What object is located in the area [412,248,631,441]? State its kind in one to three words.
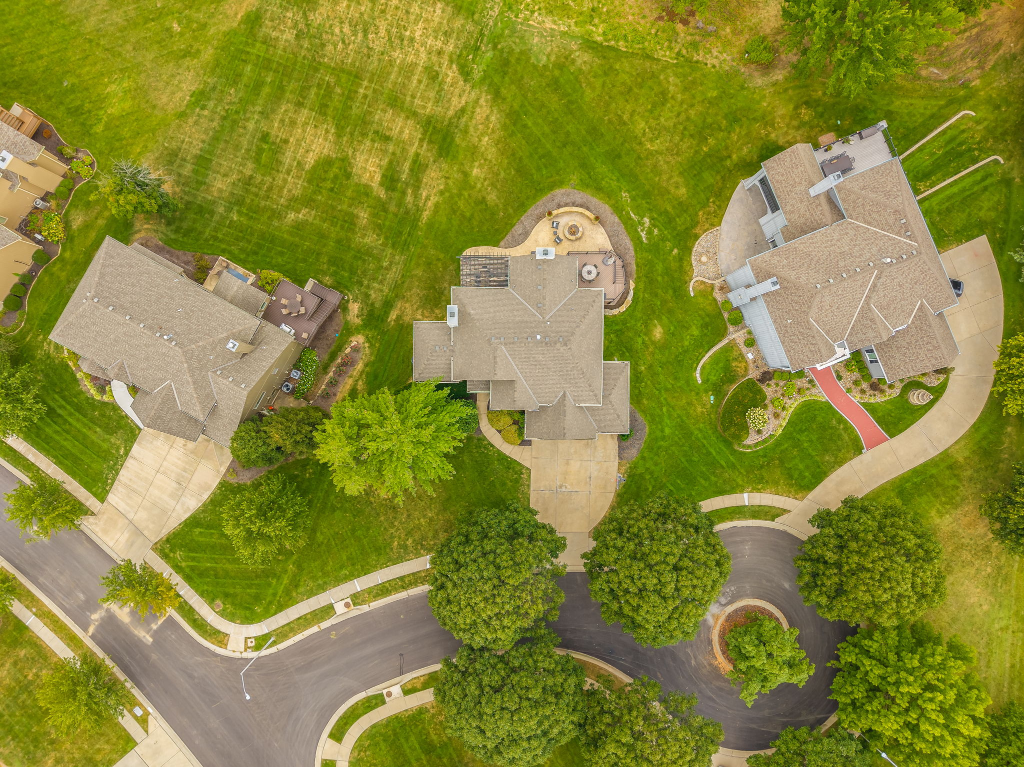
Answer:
house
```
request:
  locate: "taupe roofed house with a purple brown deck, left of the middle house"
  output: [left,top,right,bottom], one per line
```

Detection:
[48,235,301,446]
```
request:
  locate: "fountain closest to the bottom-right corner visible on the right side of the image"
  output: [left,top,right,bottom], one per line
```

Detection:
[907,388,933,406]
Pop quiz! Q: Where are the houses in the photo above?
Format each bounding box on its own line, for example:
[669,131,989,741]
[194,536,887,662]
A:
[412,248,631,441]
[715,143,961,385]
[48,235,301,446]
[0,122,70,301]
